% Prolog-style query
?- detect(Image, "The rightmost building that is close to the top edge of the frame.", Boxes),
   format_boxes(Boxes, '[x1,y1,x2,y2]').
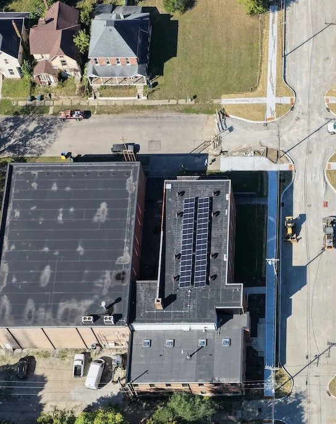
[86,3,155,88]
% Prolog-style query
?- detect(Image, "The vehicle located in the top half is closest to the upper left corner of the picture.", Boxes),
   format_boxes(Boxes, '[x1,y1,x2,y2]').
[58,110,87,123]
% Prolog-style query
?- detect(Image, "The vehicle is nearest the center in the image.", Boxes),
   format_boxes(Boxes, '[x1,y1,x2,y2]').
[107,141,141,156]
